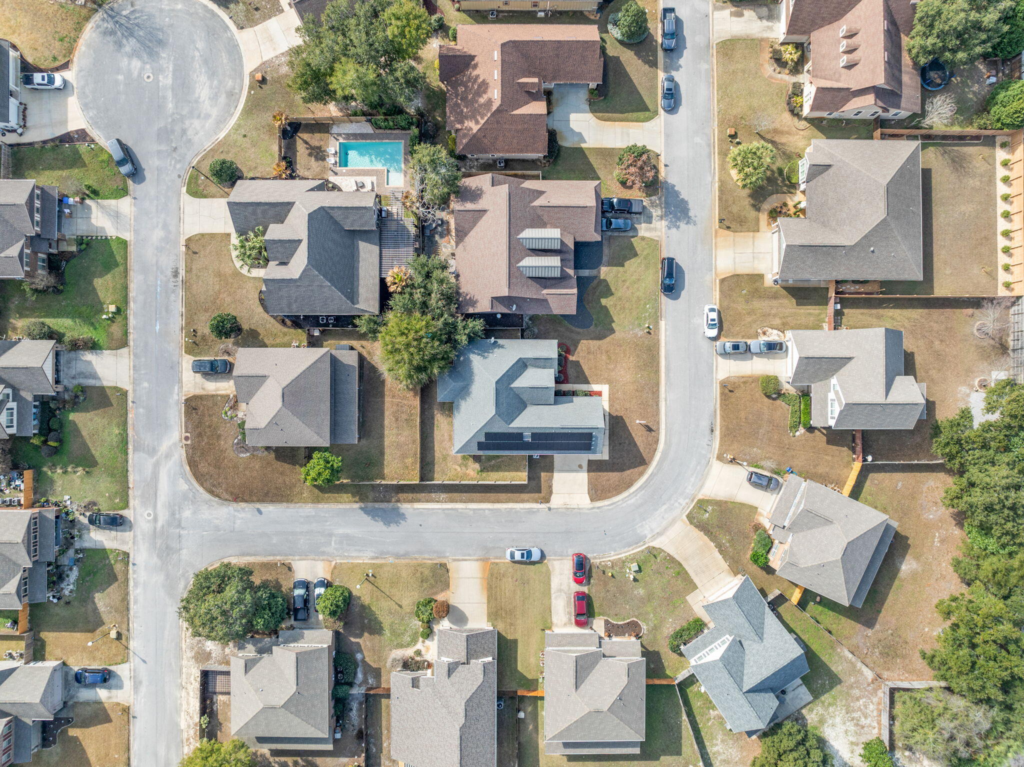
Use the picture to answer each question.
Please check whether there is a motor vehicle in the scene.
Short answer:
Yes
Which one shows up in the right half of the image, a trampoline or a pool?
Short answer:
trampoline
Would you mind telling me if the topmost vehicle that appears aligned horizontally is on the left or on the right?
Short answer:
left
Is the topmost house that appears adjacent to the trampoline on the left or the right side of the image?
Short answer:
right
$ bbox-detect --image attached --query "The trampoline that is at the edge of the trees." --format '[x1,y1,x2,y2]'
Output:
[921,56,955,89]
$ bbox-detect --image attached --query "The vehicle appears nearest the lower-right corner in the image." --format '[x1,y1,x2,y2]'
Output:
[742,471,780,491]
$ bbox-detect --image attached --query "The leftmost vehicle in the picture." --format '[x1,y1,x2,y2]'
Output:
[24,72,68,92]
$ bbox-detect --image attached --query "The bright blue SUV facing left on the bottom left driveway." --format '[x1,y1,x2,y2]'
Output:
[77,666,114,686]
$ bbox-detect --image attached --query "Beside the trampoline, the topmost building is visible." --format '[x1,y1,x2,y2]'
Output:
[780,0,921,118]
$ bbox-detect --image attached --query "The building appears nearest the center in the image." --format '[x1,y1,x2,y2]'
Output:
[437,339,605,455]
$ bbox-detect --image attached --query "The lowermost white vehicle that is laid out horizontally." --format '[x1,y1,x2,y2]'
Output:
[505,546,541,563]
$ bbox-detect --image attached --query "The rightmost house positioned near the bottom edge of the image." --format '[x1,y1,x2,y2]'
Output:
[681,574,810,738]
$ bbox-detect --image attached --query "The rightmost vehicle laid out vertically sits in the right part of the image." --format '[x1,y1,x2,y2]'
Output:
[702,304,719,339]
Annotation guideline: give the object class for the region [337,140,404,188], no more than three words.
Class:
swimming pool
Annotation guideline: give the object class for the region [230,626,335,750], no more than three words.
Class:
house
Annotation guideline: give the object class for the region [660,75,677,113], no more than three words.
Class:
car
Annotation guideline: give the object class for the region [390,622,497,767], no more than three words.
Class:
house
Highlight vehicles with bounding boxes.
[89,511,127,529]
[702,304,719,339]
[77,666,114,686]
[659,257,677,295]
[505,546,541,563]
[191,358,232,375]
[660,75,677,113]
[311,576,328,612]
[748,339,786,355]
[107,139,137,179]
[601,216,633,233]
[660,7,679,54]
[571,551,588,584]
[742,471,780,491]
[714,339,748,356]
[24,72,68,92]
[572,590,589,626]
[601,196,644,215]
[292,576,311,621]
